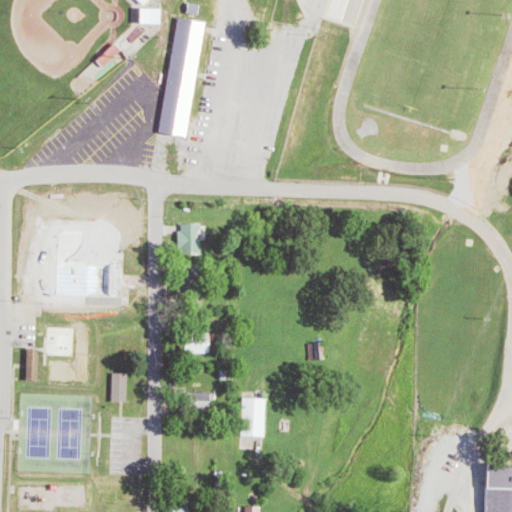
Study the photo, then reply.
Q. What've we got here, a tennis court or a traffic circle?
tennis court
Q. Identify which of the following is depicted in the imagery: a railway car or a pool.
pool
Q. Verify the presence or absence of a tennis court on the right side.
No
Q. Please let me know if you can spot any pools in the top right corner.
No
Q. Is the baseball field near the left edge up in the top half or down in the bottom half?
top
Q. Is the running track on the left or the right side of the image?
right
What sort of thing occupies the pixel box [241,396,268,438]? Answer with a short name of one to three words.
house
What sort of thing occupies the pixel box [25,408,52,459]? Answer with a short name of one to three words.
tennis court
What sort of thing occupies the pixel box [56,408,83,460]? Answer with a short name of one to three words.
tennis court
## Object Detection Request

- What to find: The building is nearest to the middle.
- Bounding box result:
[178,223,207,256]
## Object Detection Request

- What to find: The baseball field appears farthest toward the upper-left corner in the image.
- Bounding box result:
[0,0,131,157]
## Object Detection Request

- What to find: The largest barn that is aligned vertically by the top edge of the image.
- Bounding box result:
[158,18,206,138]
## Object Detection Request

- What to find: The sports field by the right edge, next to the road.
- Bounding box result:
[346,0,512,162]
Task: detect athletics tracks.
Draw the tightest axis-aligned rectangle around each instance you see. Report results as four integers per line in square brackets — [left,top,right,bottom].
[334,0,512,176]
